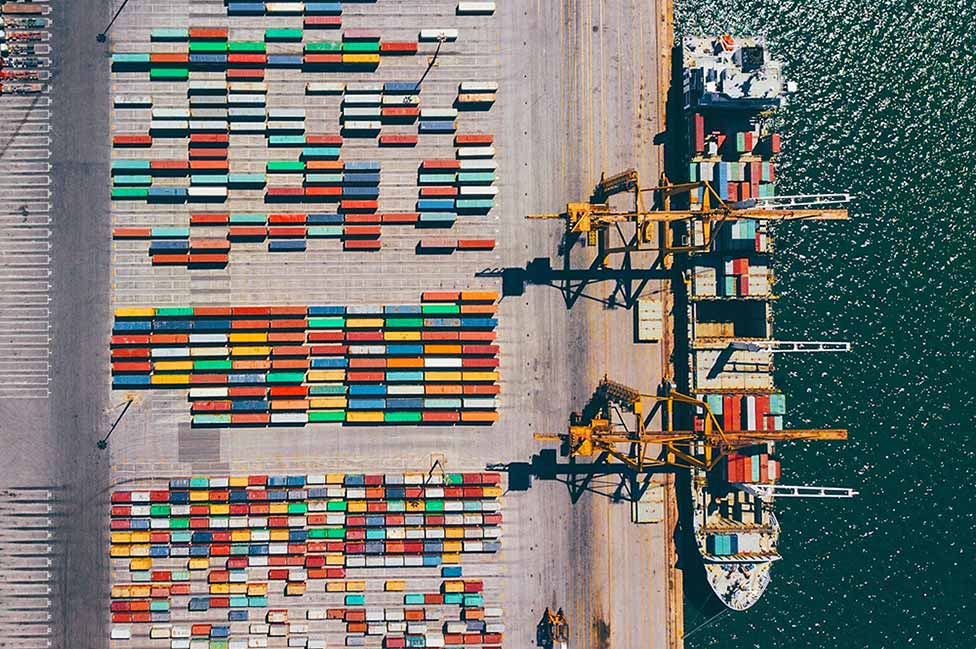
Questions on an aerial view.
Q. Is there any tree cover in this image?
No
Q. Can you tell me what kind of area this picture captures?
port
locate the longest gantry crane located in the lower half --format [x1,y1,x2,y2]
[532,369,851,475]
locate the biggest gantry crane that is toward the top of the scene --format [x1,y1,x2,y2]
[532,163,851,272]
